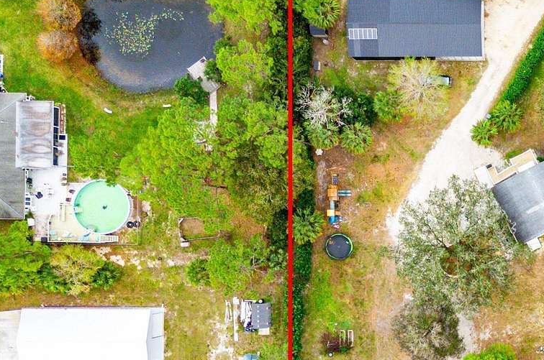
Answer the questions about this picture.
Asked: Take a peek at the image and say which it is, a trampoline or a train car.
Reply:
trampoline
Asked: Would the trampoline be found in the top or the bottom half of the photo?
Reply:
bottom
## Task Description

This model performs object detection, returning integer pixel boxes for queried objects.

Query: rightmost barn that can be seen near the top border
[346,0,485,63]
